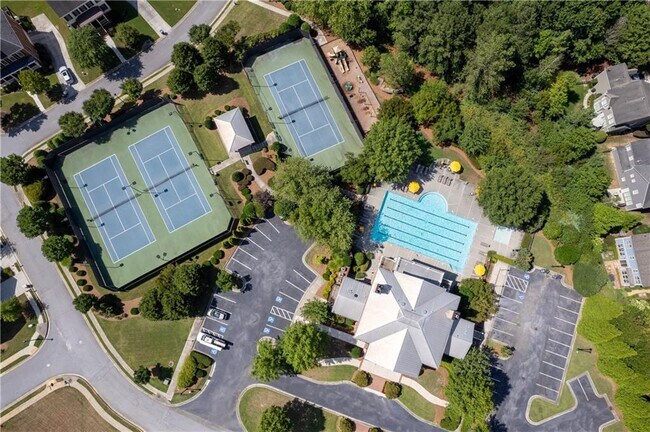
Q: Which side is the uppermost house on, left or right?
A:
left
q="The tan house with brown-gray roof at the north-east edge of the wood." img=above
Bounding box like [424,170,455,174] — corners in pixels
[588,63,650,132]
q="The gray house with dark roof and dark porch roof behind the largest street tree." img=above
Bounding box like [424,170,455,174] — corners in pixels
[46,0,112,32]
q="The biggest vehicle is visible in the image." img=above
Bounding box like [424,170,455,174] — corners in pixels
[196,334,225,353]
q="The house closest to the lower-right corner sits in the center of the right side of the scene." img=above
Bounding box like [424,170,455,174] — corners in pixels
[615,232,650,289]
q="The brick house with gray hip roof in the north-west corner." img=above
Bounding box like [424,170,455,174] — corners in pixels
[0,10,44,99]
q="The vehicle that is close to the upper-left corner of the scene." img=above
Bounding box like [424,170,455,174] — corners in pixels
[58,66,72,84]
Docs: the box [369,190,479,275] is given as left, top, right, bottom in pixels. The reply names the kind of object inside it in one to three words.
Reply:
swimming pool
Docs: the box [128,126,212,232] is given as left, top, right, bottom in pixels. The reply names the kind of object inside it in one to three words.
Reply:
tennis court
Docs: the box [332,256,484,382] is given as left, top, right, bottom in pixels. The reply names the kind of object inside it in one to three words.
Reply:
building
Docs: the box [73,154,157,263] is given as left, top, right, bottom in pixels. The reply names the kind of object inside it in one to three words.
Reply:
tennis court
